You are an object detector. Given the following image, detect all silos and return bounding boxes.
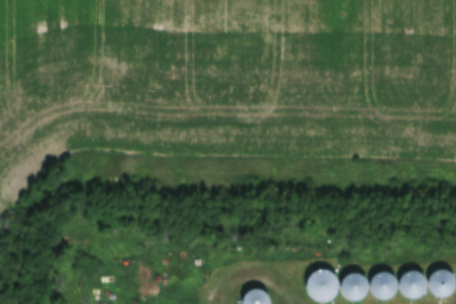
[340,272,369,303]
[428,268,456,300]
[240,288,272,304]
[398,270,428,302]
[306,268,340,302]
[369,271,398,303]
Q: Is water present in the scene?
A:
No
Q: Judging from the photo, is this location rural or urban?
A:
rural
